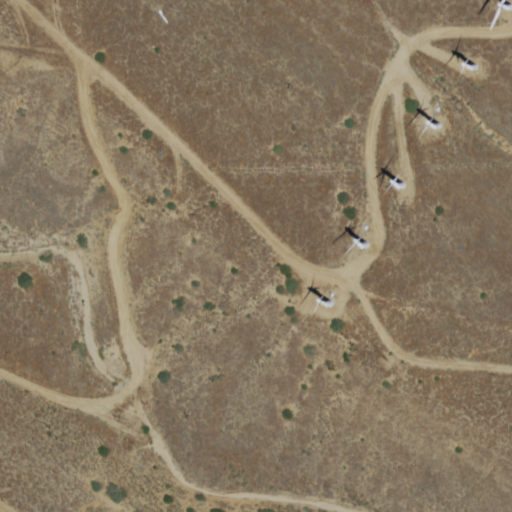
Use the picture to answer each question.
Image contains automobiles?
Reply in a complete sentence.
No, no automobile is visible in the view.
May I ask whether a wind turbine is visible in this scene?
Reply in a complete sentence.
Yes, there is a wind turbine in the image.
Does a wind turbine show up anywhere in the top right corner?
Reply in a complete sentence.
Yes, in the top right corner there is a wind turbine.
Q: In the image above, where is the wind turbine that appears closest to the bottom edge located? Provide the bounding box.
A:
[308,292,336,320]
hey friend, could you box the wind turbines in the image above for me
[382,164,409,191]
[417,112,445,141]
[491,0,512,28]
[342,232,372,258]
[308,292,336,320]
[454,55,480,83]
